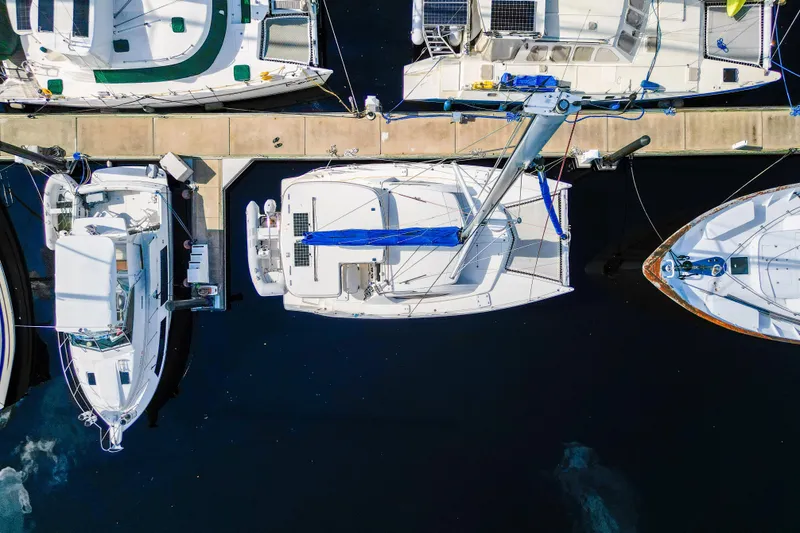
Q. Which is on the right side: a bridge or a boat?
boat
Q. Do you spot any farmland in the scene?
No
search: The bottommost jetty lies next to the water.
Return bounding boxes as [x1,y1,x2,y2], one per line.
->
[192,158,230,309]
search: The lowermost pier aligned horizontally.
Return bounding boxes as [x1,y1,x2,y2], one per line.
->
[0,106,800,188]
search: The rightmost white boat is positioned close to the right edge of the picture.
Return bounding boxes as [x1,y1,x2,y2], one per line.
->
[639,182,800,343]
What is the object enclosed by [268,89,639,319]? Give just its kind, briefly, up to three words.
boat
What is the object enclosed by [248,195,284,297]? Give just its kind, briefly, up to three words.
boat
